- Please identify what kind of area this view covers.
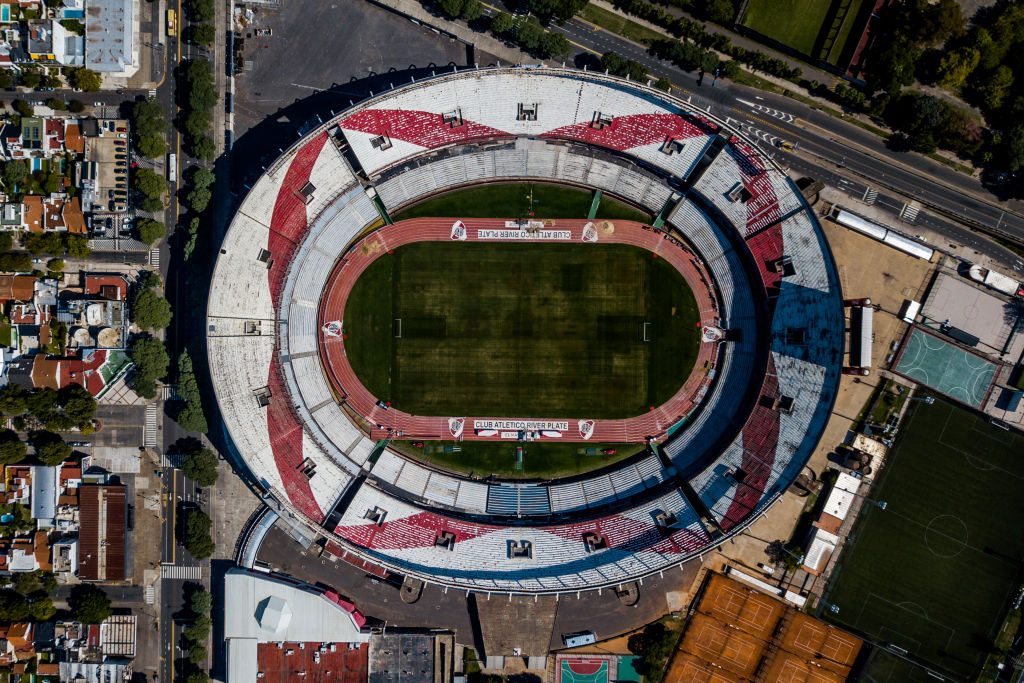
sports ground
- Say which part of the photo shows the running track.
center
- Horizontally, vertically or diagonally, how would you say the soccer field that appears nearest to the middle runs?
horizontally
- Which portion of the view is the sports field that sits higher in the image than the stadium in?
top right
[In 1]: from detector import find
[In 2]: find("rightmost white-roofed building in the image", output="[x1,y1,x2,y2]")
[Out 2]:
[976,271,1018,295]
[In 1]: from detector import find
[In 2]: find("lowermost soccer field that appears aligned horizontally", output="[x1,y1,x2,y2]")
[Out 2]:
[846,645,947,683]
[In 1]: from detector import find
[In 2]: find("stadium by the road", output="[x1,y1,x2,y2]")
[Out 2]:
[205,56,846,603]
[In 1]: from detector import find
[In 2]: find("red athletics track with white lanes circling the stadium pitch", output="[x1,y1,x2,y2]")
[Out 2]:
[322,219,723,441]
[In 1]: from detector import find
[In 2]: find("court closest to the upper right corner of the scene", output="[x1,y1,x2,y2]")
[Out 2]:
[923,274,1013,348]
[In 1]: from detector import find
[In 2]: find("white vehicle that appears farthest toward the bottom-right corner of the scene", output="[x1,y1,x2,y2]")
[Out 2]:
[759,563,776,575]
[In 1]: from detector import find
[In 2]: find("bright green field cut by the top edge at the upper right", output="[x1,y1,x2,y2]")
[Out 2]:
[744,0,835,54]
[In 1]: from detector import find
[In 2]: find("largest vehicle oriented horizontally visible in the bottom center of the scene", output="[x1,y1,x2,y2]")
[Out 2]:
[566,634,595,647]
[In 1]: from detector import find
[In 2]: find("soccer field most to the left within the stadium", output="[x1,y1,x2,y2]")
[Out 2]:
[345,243,699,417]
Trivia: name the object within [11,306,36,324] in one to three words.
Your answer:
house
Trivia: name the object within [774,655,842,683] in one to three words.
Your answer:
tennis court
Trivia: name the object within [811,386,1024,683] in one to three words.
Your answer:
soccer field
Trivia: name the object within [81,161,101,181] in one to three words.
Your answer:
building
